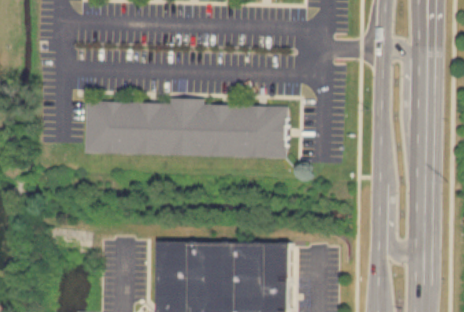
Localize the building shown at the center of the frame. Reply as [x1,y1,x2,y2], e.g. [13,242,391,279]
[83,98,292,158]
